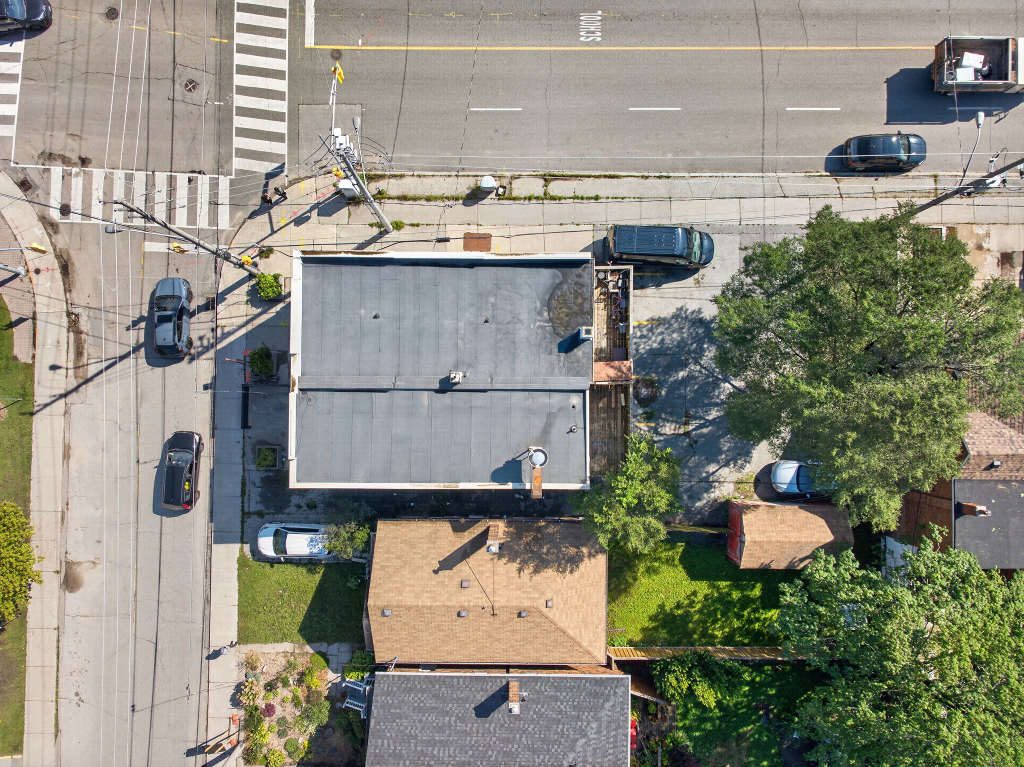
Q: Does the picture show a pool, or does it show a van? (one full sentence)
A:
This aerial view contains a van.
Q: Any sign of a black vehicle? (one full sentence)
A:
Yes, the frame does contain a black vehicle.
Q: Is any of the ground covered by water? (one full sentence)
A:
No, there's no water in this view.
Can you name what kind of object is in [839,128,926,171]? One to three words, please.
car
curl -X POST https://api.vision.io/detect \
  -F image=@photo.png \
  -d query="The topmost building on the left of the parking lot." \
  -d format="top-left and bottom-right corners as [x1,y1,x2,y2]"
[289,251,594,489]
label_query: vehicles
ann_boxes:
[157,430,202,512]
[768,458,849,496]
[601,228,712,271]
[923,36,1024,97]
[839,128,926,171]
[148,278,194,359]
[0,0,56,31]
[257,523,341,563]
